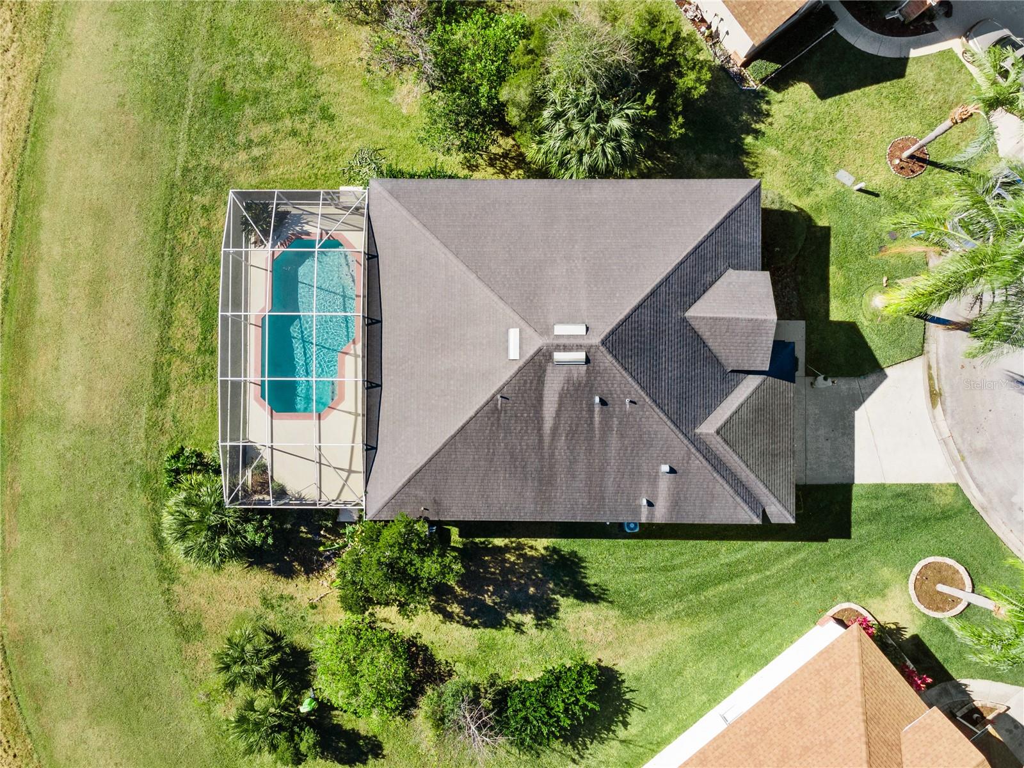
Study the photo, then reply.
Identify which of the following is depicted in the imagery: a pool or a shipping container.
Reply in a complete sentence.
Visible in the photo is a pool.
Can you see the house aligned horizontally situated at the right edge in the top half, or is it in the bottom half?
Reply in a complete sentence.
The bottom half of the photo is where the house aligned horizontally situated at the right edge is.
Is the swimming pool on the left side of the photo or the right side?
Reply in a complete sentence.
You can find the swimming pool on the left side of the picture.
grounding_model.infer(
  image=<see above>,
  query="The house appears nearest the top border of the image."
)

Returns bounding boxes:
[692,0,811,66]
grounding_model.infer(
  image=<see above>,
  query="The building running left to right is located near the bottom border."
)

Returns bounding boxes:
[647,620,992,768]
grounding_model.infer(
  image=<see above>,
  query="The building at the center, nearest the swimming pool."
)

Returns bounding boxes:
[365,178,797,524]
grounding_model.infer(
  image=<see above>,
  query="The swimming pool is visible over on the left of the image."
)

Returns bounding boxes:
[253,232,362,419]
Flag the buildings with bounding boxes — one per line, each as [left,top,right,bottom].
[647,620,992,768]
[365,178,797,524]
[692,0,811,66]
